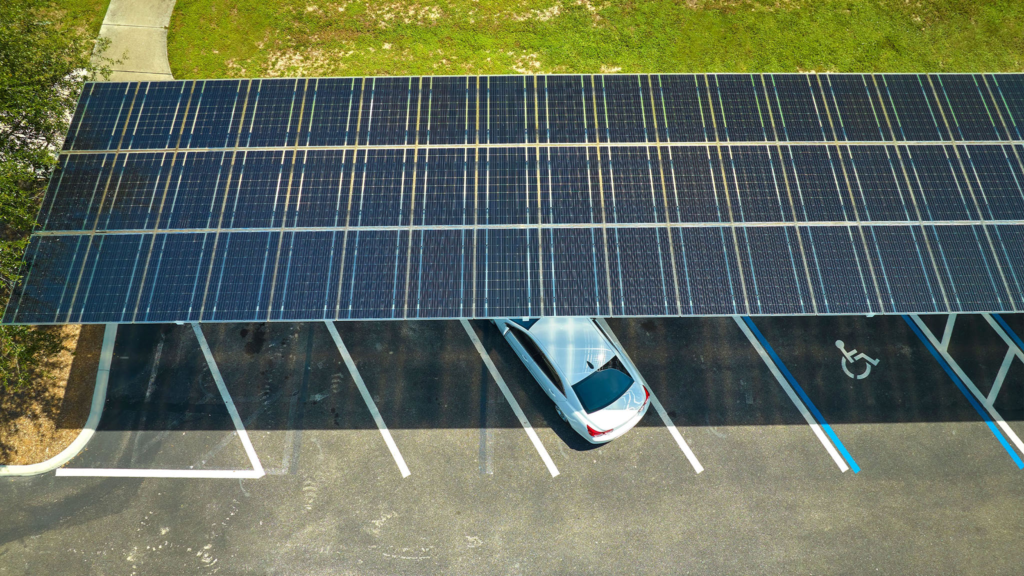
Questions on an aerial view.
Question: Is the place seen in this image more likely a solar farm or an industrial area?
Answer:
solar farm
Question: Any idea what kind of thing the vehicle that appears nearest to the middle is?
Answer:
car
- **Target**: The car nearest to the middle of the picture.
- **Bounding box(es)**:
[488,317,648,444]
